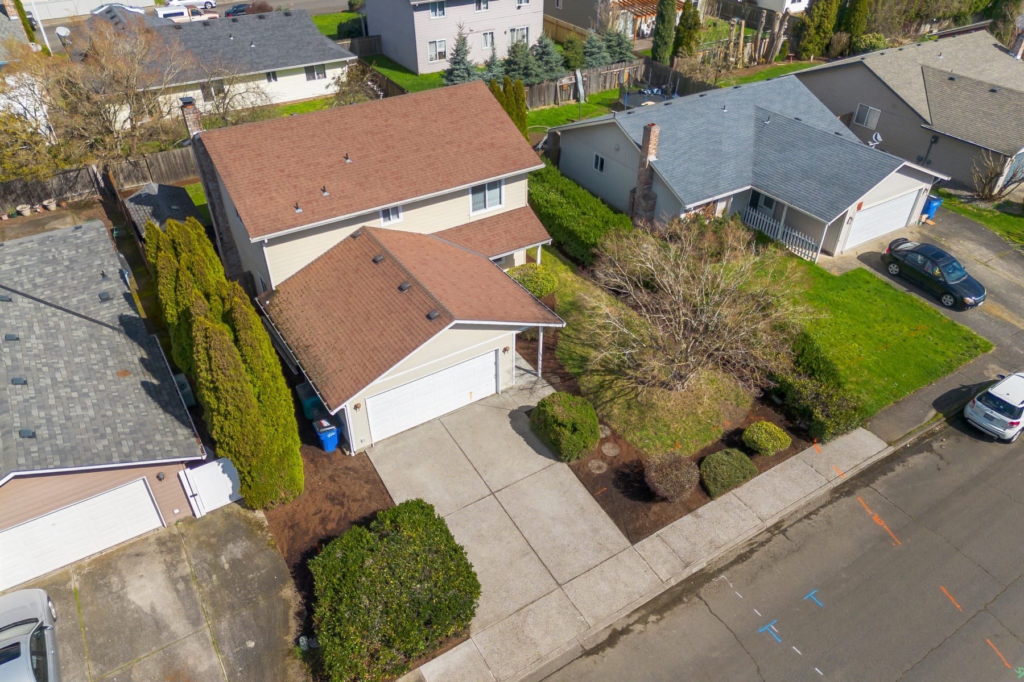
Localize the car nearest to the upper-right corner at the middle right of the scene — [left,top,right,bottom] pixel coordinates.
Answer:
[886,242,991,309]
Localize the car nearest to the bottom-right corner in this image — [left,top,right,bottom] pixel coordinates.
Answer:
[962,376,1024,449]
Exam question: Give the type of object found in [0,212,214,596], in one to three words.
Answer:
house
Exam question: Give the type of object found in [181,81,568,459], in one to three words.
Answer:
house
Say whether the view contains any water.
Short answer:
No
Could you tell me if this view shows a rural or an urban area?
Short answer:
urban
